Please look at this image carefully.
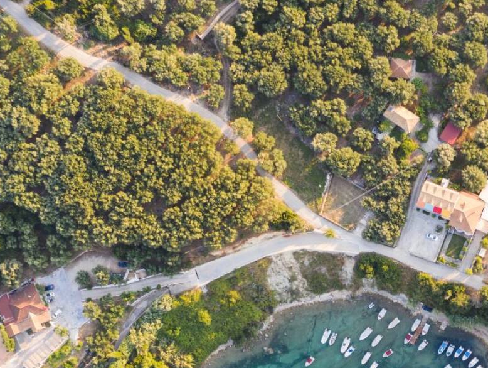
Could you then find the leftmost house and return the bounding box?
[0,282,66,368]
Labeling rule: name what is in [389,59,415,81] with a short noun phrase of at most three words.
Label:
house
